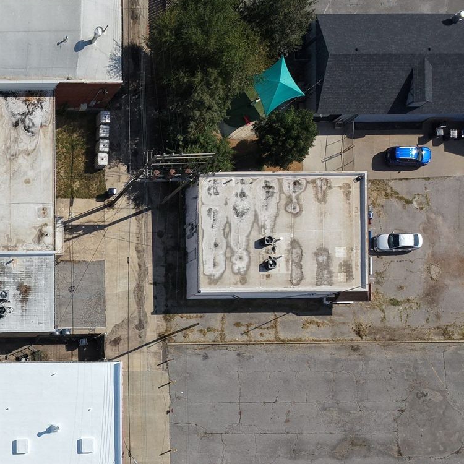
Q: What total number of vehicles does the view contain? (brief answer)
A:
2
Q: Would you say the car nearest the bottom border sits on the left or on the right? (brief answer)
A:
right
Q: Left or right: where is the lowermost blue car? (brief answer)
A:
right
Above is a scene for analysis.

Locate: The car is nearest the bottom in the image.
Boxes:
[370,230,425,254]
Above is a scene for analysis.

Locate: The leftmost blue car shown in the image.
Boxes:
[384,143,433,169]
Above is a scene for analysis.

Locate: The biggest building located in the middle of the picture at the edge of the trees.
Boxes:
[184,173,370,306]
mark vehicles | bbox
[384,143,433,169]
[370,230,425,254]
